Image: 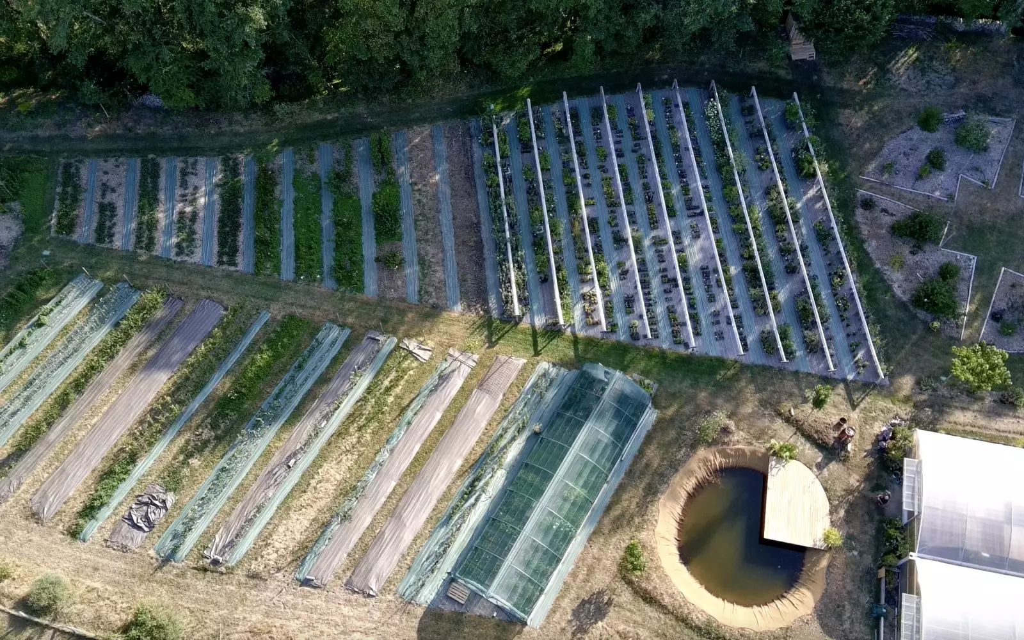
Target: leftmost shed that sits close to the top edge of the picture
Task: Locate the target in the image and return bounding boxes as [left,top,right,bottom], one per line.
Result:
[784,17,819,62]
